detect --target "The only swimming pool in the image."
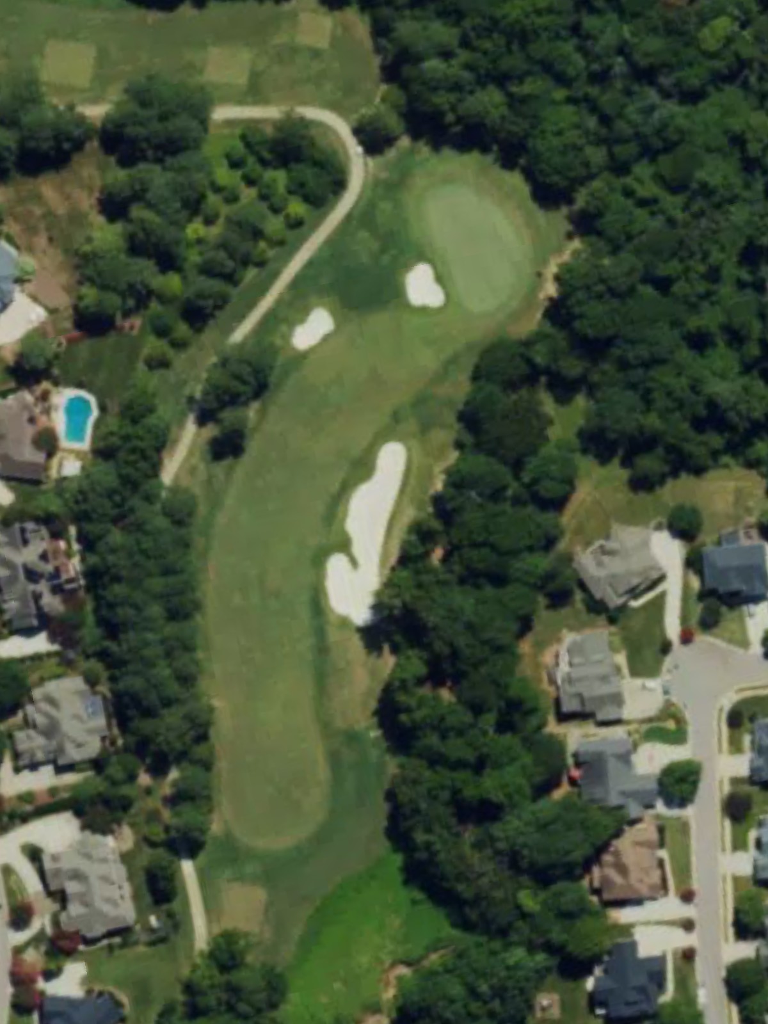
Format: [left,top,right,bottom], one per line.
[51,387,98,449]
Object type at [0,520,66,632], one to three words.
house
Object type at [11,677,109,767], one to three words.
house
